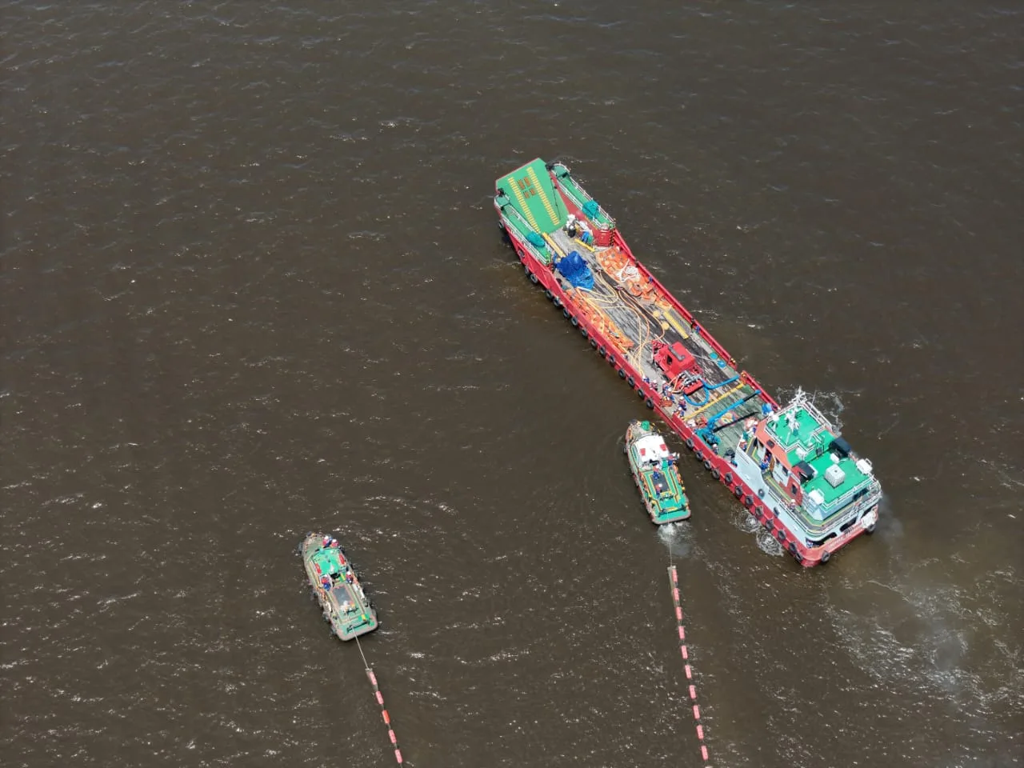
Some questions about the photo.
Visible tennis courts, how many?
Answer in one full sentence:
There are no tennis courts in the image.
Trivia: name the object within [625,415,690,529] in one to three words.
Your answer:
boat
